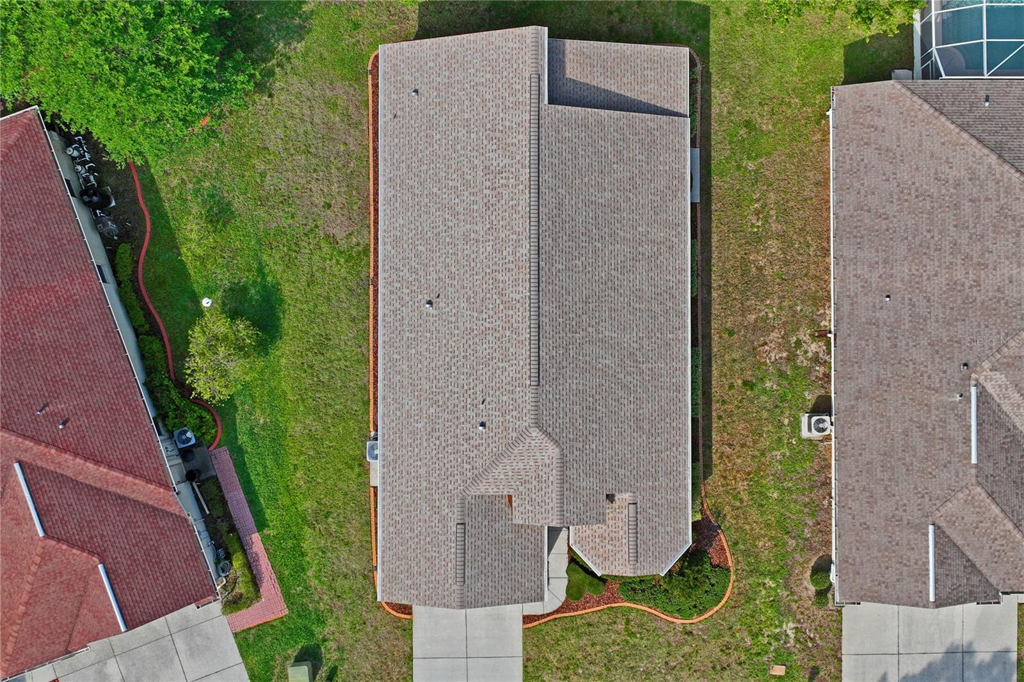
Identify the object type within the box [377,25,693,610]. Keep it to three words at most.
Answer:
house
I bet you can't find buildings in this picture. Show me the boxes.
[0,104,224,682]
[377,25,693,610]
[818,80,1024,609]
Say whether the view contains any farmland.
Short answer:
No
